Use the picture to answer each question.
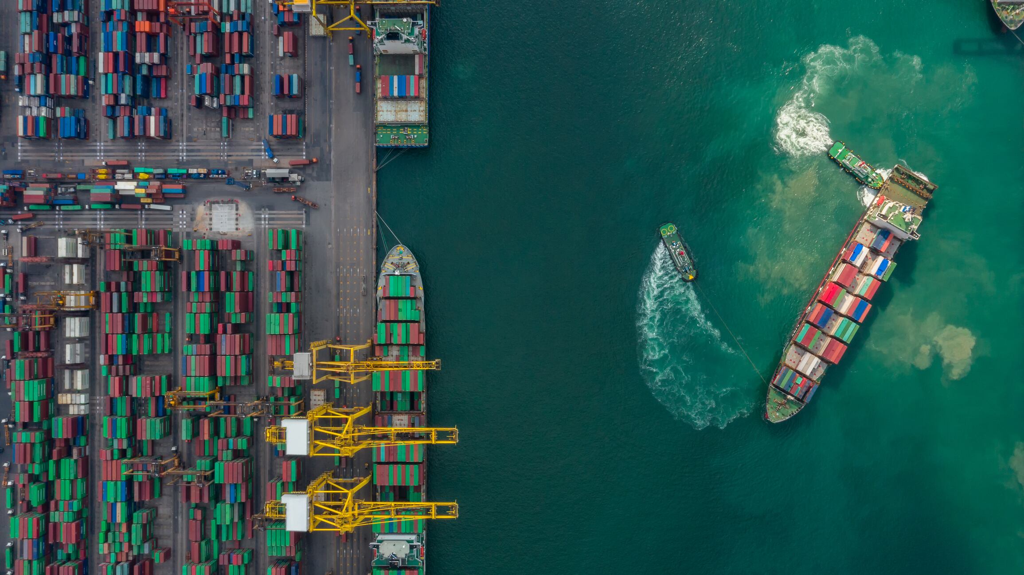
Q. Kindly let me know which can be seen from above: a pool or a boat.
boat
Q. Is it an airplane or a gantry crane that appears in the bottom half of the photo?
gantry crane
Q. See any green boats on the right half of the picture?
Yes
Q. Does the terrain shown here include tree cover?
No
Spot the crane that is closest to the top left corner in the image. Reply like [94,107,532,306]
[166,0,222,34]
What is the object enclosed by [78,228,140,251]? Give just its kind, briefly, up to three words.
crane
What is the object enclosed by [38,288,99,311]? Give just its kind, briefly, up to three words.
crane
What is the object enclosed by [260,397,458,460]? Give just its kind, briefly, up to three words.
container crane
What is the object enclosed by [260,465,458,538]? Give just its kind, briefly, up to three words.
container crane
